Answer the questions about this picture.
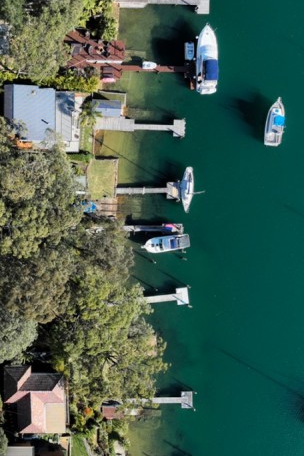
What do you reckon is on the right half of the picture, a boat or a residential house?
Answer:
boat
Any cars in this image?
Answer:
No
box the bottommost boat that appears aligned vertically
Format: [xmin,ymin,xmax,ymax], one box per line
[181,166,204,213]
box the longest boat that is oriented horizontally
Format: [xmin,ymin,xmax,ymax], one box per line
[139,233,192,253]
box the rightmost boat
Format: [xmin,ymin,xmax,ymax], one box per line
[264,94,287,145]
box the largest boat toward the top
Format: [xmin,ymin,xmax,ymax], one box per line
[192,23,224,94]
